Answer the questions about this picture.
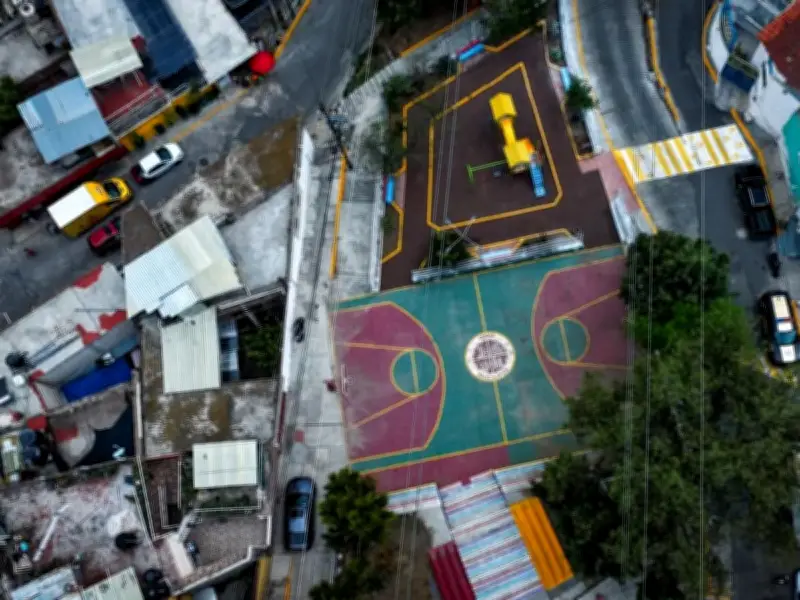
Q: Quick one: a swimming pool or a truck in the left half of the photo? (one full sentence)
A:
You can see a truck in the left half of the photo.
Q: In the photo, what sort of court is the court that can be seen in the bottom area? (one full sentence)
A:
In the photo, the court that can be seen in the bottom area shows up as a basketball court.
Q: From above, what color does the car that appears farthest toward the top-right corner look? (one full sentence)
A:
The car that appears farthest toward the top-right corner looks black in the image.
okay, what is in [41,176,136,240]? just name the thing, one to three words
truck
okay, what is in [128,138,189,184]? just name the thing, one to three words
car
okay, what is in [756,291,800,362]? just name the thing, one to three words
car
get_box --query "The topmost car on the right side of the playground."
[734,166,777,238]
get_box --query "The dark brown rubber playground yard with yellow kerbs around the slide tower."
[377,19,625,291]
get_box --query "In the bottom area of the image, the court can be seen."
[328,243,658,492]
